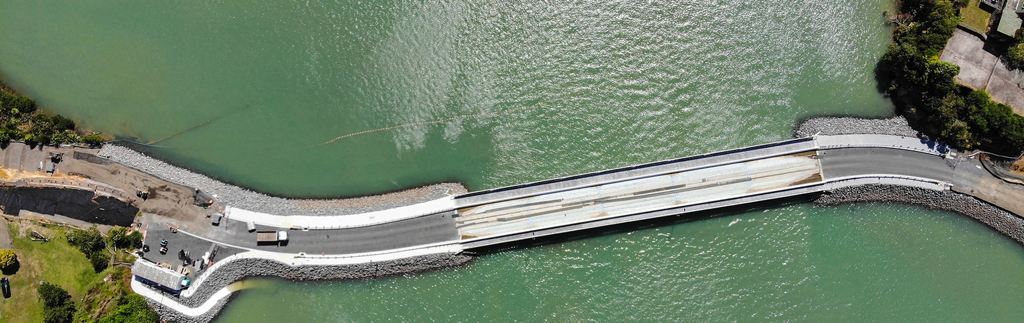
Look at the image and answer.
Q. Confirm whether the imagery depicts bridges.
Yes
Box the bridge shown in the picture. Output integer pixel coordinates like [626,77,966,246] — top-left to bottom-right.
[445,129,834,256]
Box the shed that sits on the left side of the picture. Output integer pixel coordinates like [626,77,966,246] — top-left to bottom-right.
[135,259,190,290]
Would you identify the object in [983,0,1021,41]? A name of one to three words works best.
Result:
house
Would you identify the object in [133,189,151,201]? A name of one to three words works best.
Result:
vehicle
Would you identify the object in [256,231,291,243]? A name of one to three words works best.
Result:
vehicle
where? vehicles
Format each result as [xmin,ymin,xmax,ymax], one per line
[256,231,291,243]
[0,278,12,297]
[133,189,151,201]
[157,247,166,254]
[159,239,168,245]
[47,153,67,161]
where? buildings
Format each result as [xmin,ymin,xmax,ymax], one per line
[135,259,190,290]
[983,0,1021,41]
